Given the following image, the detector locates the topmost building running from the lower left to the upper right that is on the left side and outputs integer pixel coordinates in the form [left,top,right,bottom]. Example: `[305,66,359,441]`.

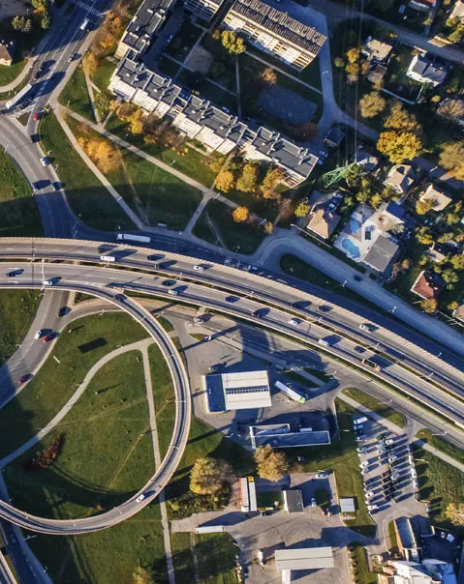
[115,0,175,64]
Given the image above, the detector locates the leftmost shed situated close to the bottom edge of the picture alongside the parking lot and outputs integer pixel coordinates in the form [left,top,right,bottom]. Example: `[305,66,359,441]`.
[269,542,336,570]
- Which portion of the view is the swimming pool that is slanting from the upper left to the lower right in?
right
